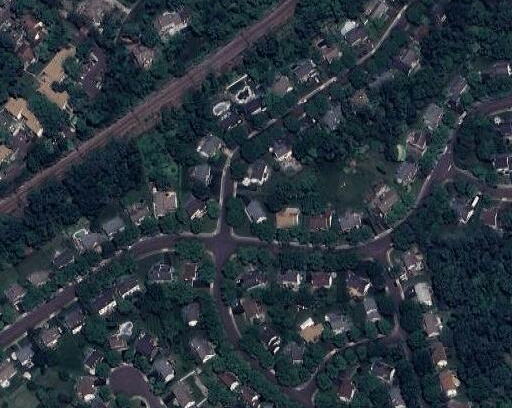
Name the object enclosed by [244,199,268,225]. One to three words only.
house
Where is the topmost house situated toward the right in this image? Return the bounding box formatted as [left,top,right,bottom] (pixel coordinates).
[367,0,390,22]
